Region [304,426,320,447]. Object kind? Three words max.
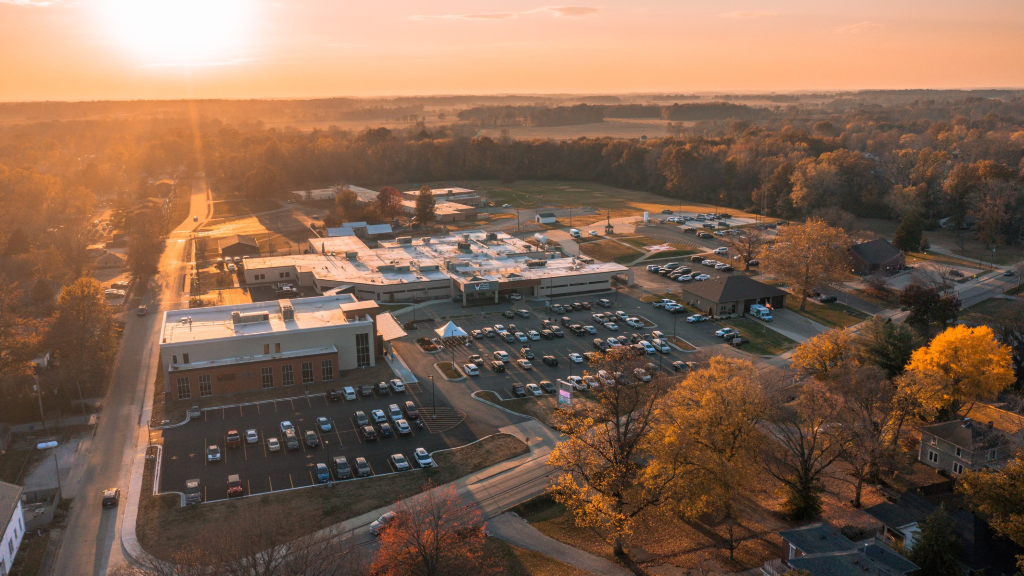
car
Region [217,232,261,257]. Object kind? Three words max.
house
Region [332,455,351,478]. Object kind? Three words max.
vehicle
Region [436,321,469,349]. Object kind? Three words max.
tent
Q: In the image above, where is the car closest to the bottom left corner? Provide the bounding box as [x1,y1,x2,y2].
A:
[101,486,121,508]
